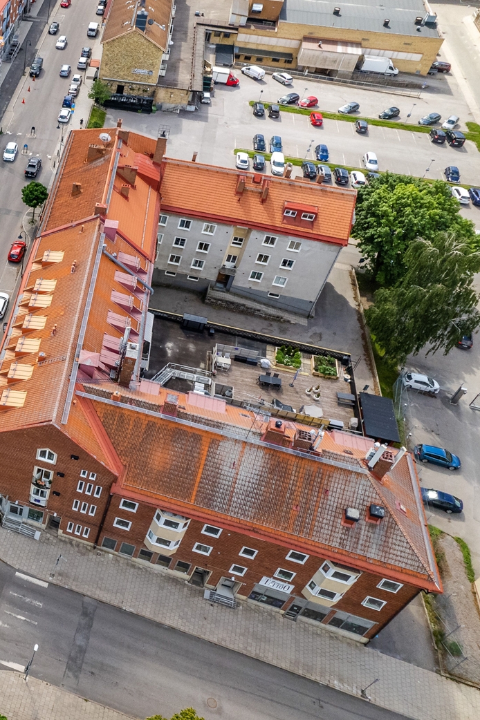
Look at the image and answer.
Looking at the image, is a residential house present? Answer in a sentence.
Yes, you can see a residential house in this photo.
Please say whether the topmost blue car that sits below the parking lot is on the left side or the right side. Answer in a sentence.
You can find the topmost blue car that sits below the parking lot on the right side of the picture.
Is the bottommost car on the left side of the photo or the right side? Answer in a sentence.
The bottommost car is on the right side of the image.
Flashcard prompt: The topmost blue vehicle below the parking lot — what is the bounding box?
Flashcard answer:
[409,440,466,474]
